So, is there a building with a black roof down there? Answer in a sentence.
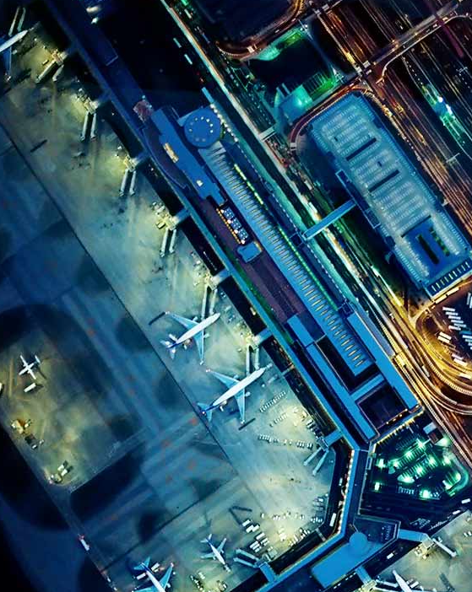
Yes, a building with a black roof appears in the view.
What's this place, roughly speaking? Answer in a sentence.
The picture captures an airport.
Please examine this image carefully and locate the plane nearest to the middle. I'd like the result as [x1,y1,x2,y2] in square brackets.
[157,307,219,364]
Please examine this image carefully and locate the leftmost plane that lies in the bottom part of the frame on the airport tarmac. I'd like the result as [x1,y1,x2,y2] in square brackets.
[18,356,38,377]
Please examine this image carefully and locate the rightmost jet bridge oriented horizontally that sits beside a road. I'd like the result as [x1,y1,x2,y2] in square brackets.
[400,530,430,545]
